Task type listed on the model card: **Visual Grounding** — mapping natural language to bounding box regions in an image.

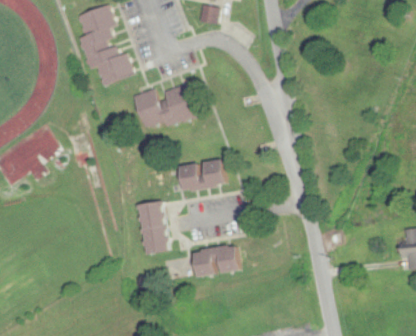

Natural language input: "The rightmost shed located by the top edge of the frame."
[202,4,222,24]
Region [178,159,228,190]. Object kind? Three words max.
building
